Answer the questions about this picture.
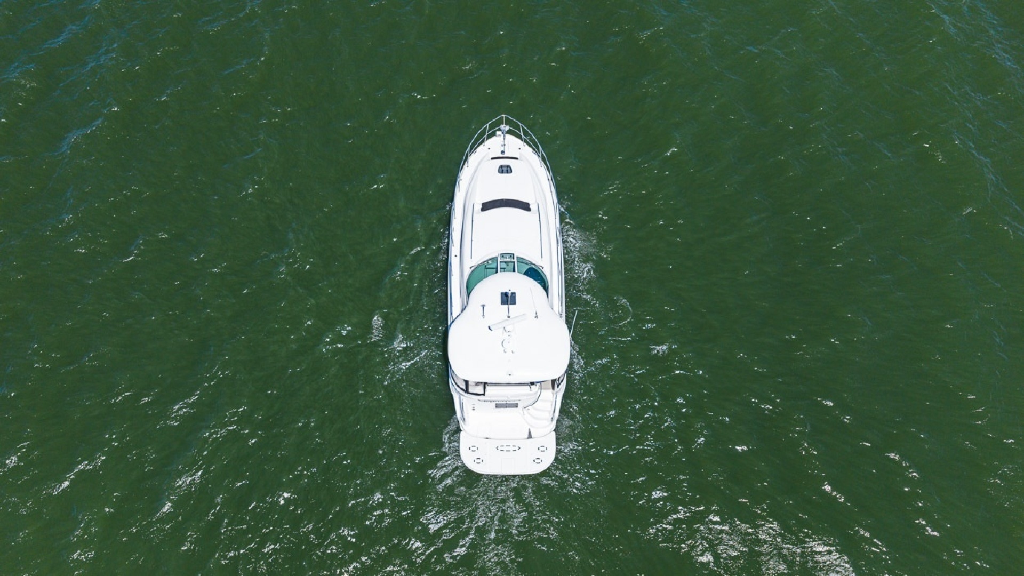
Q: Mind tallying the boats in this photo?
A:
1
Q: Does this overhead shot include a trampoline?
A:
No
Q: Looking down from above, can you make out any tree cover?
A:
No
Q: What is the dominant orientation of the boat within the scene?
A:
vertically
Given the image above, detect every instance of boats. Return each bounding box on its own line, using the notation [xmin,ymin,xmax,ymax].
[447,114,577,475]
